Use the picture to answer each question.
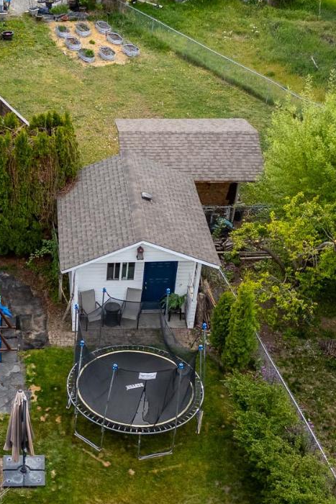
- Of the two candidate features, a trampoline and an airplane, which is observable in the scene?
trampoline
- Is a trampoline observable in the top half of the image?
No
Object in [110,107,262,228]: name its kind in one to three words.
shed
